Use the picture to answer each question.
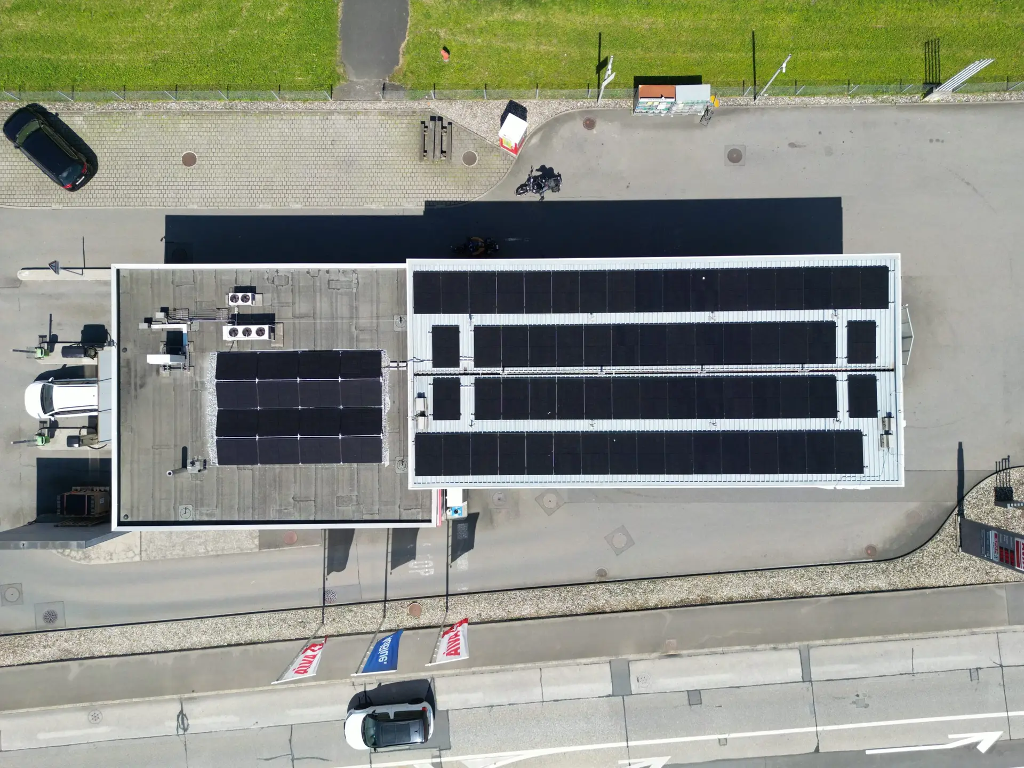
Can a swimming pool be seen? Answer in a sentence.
No, I can't see a single swimming pool in this photo.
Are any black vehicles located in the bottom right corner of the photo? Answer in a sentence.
No, there's no black vehicle to be seen in the bottom right corner of the photo.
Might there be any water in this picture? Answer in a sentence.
No, no water is visible.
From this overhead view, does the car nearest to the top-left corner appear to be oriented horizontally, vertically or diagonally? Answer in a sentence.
The car nearest to the top-left corner runs diagonally in the image.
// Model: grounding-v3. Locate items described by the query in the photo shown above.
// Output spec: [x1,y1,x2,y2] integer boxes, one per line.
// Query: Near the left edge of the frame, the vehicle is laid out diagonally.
[3,103,97,195]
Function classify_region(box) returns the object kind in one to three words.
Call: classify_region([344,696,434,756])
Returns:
car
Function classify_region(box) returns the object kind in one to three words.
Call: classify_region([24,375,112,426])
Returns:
car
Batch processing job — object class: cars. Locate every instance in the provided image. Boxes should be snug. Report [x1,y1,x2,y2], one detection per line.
[24,375,112,426]
[344,696,434,756]
[3,103,97,195]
